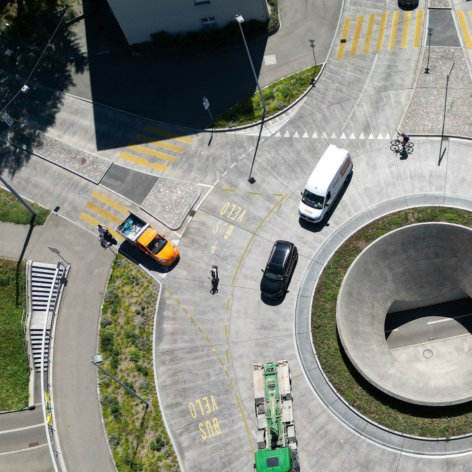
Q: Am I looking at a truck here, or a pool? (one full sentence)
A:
The image shows a truck.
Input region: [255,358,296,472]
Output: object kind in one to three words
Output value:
truck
